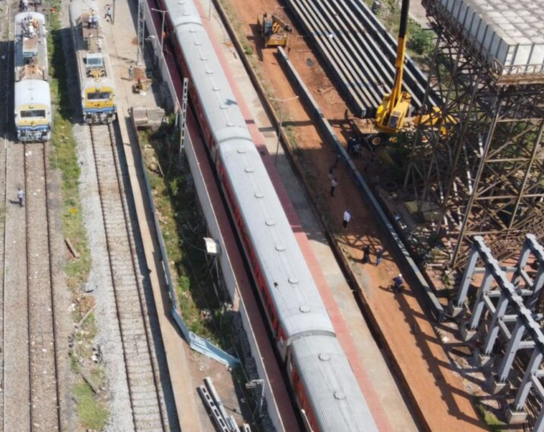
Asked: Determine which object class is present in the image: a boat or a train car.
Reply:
train car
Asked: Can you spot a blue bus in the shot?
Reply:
No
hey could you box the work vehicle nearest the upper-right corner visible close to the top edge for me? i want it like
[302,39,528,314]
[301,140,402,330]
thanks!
[257,7,299,52]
